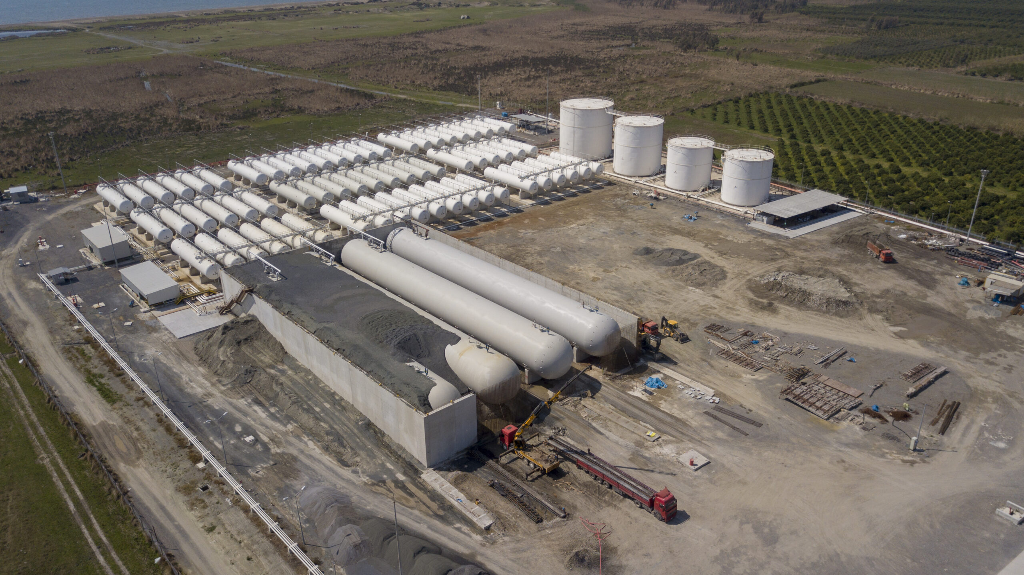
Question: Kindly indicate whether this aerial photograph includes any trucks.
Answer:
Yes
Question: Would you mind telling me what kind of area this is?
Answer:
industrial area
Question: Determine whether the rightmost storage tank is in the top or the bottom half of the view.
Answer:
top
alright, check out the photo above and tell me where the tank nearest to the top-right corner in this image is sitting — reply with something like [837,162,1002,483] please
[719,145,776,208]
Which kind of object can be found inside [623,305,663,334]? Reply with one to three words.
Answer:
truck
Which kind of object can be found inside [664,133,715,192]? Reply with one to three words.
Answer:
storage tank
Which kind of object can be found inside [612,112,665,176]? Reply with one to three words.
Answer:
storage tank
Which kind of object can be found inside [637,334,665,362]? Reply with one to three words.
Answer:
work vehicle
